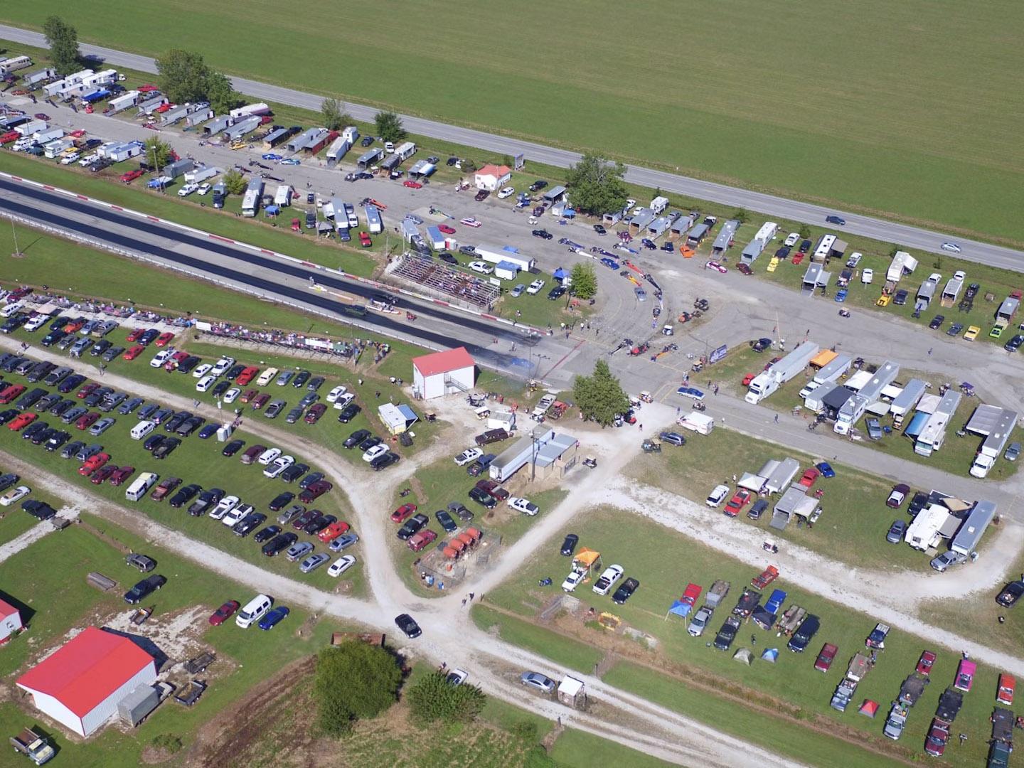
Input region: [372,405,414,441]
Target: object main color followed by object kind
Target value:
white trailer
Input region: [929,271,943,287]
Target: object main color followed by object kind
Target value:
white vehicle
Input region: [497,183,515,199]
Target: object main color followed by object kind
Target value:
white car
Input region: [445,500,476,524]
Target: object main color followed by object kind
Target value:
gray truck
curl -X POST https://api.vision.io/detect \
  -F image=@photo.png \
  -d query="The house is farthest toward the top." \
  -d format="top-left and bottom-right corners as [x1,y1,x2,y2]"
[474,165,515,190]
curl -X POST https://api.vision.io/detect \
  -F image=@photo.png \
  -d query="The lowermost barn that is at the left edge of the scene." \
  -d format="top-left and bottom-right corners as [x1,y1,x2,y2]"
[8,619,158,737]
